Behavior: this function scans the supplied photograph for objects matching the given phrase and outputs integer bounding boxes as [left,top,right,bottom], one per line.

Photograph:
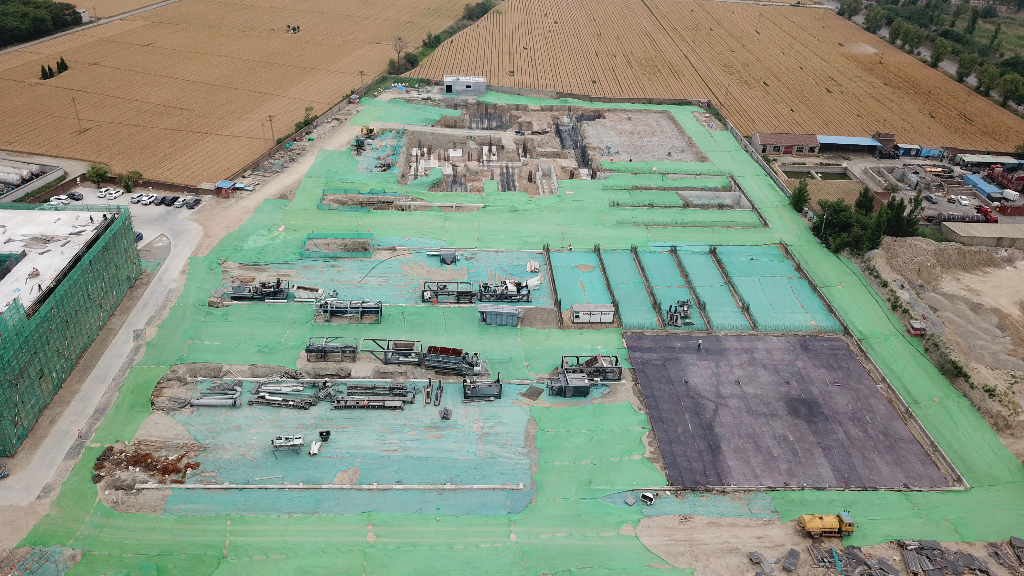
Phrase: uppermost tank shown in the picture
[775,164,860,182]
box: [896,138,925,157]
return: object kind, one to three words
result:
building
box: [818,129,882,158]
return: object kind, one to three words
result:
shed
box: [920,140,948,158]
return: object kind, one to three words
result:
building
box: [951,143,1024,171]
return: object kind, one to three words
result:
shed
